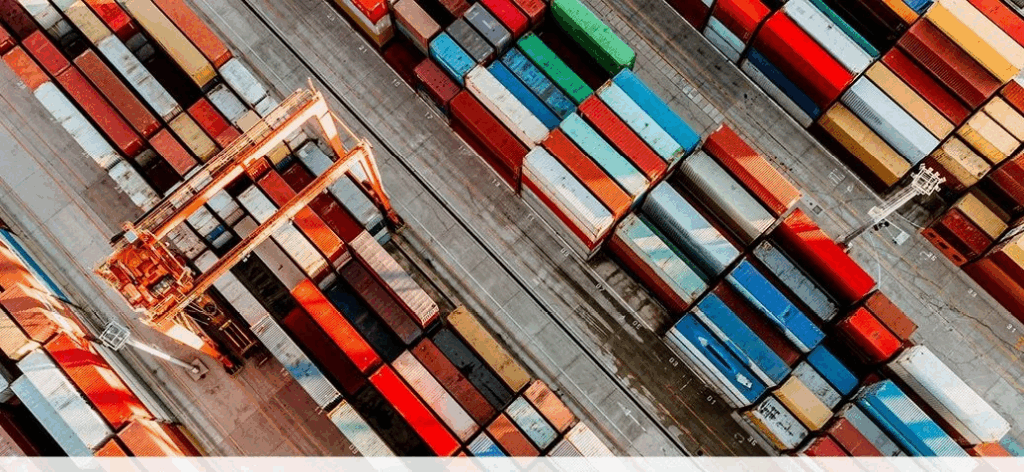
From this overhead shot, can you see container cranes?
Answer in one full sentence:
Yes, this view includes a container crane.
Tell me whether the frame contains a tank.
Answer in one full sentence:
No, the picture doesn't show any tank.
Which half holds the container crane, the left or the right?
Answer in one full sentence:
The container crane is on the left side of the image.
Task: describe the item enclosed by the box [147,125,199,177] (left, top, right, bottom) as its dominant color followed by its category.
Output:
red shipping container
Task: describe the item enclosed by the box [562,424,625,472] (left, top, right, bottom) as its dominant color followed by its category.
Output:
white shipping container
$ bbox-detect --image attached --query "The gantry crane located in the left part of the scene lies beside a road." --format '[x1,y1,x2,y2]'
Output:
[84,63,407,375]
